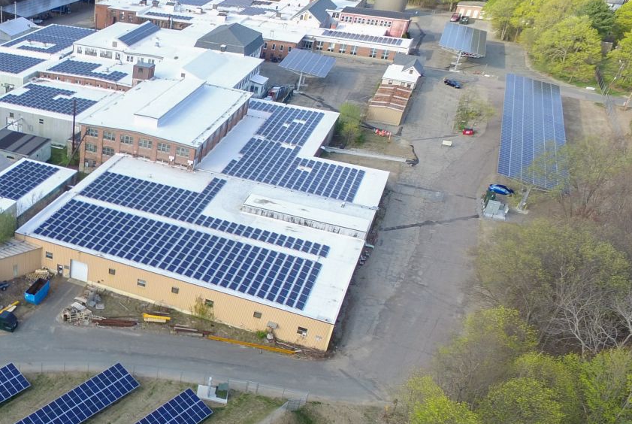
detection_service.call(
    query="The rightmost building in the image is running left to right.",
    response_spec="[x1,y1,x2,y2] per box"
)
[456,4,500,20]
